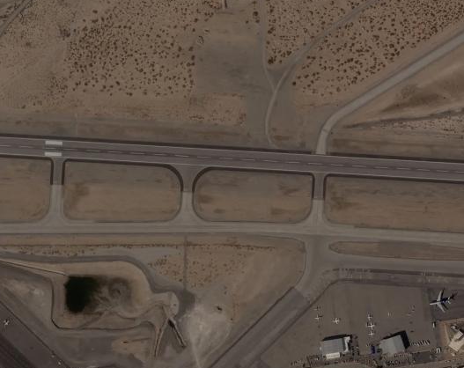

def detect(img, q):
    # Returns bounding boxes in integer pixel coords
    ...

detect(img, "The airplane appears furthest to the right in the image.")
[431,291,453,312]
